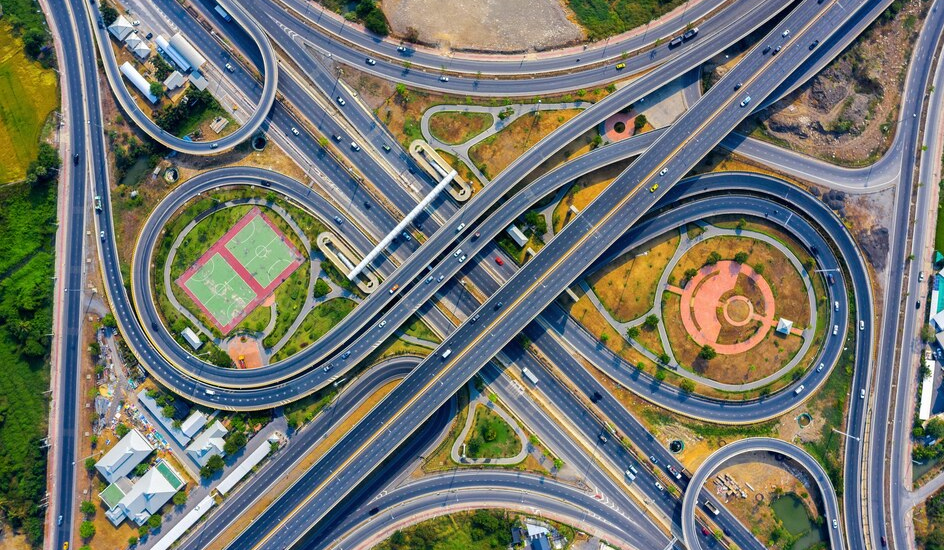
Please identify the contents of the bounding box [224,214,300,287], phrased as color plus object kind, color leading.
green sports court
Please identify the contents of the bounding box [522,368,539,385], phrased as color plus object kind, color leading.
white vehicle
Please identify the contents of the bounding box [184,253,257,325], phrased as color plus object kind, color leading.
green sports court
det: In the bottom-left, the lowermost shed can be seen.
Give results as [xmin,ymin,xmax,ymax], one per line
[153,494,218,550]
